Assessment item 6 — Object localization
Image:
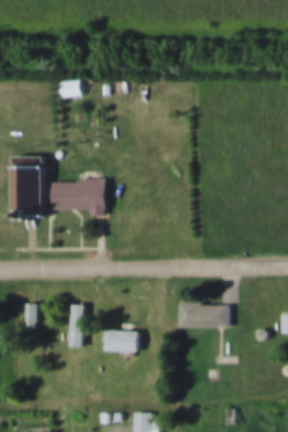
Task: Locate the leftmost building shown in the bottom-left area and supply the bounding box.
[26,302,40,326]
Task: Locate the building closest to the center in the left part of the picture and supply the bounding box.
[50,179,110,218]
